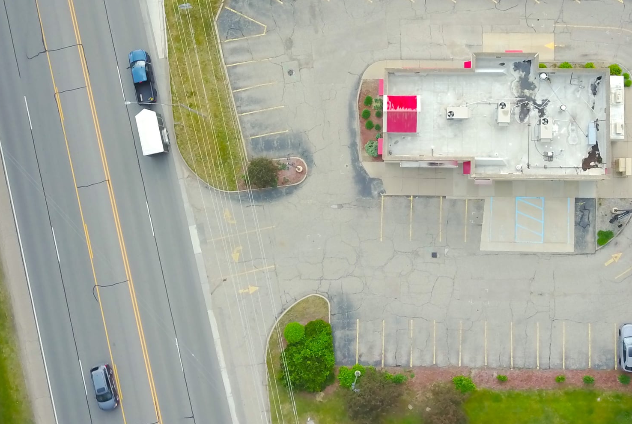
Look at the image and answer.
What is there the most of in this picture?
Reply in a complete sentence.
The largest share of the image is taken up by paved ground.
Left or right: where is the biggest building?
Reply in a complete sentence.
It is on the right.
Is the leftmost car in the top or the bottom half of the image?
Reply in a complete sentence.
Seen from above, the leftmost car lies in the bottom half of the view.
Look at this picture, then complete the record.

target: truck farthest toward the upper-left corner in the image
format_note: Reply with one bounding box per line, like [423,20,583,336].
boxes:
[128,50,159,108]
